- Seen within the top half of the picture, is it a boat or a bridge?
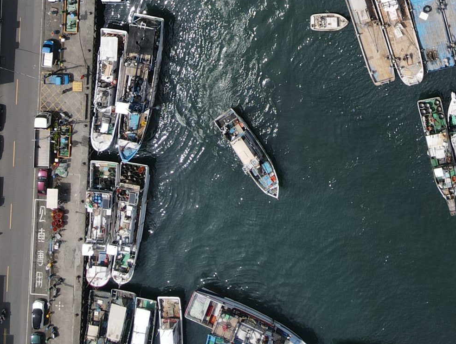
boat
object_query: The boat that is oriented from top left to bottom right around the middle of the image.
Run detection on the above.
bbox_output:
[215,108,282,202]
